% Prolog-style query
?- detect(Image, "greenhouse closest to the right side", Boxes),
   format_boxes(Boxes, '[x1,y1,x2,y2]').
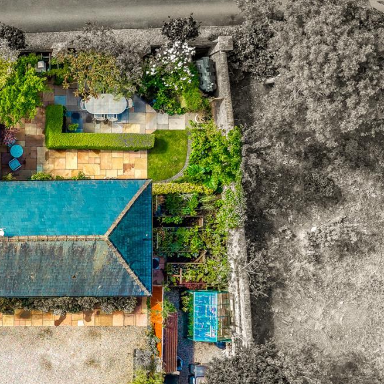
[182,289,230,342]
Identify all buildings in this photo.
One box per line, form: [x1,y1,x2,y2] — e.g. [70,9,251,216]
[0,178,154,297]
[182,289,230,342]
[158,311,182,374]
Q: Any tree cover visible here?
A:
Yes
